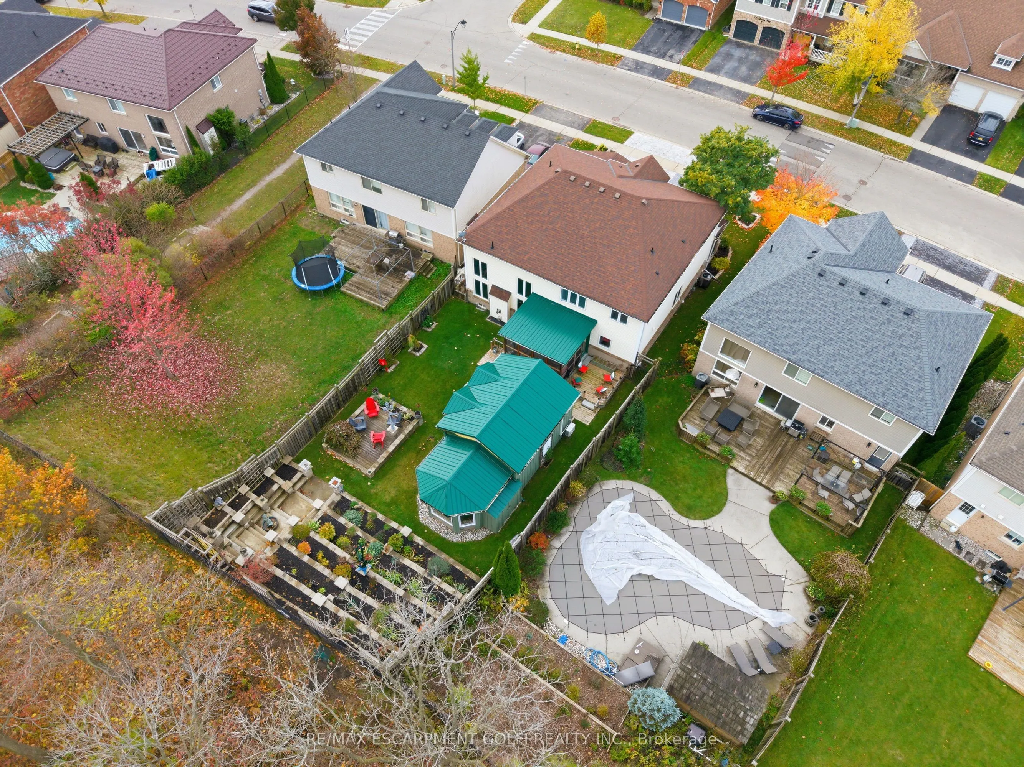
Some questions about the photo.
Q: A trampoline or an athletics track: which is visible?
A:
trampoline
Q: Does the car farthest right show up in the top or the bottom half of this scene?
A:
top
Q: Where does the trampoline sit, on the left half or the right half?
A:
left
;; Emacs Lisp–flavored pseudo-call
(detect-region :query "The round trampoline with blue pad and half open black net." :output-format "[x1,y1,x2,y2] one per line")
[286,237,345,300]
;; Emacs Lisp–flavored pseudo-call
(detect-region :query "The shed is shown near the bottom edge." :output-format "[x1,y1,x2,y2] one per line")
[665,642,769,743]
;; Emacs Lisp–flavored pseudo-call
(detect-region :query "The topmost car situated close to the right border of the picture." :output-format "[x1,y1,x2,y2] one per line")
[965,109,997,146]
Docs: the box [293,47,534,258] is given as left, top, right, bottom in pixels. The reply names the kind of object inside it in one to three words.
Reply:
house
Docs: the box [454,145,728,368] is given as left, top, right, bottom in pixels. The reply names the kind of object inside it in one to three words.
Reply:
house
